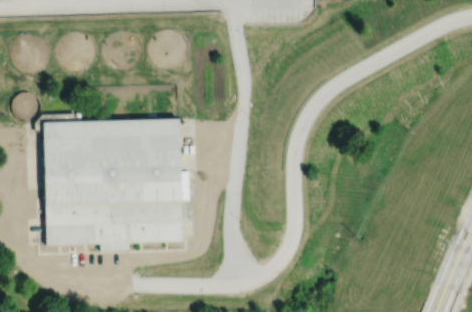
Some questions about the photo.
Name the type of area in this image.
industrial area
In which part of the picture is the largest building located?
left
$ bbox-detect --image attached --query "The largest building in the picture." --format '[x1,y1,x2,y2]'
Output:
[44,117,183,252]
